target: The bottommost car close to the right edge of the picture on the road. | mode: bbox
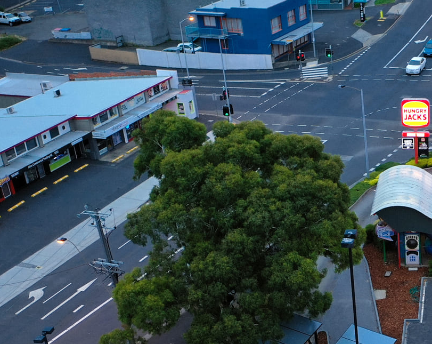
[403,55,428,73]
